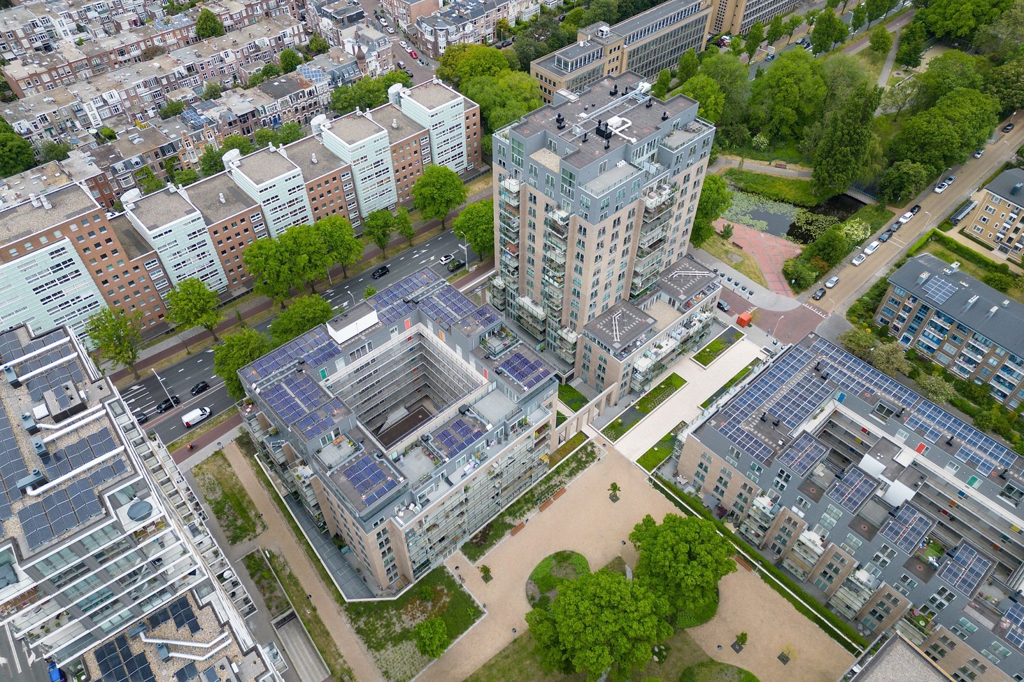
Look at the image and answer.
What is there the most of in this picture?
buildings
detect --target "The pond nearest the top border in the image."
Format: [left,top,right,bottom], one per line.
[722,182,901,246]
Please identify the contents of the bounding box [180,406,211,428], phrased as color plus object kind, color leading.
white vehicle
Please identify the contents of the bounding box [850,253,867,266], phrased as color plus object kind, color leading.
white vehicle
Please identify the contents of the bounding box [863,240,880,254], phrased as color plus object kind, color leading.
white car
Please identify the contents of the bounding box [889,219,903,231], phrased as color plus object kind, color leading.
gray vehicle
